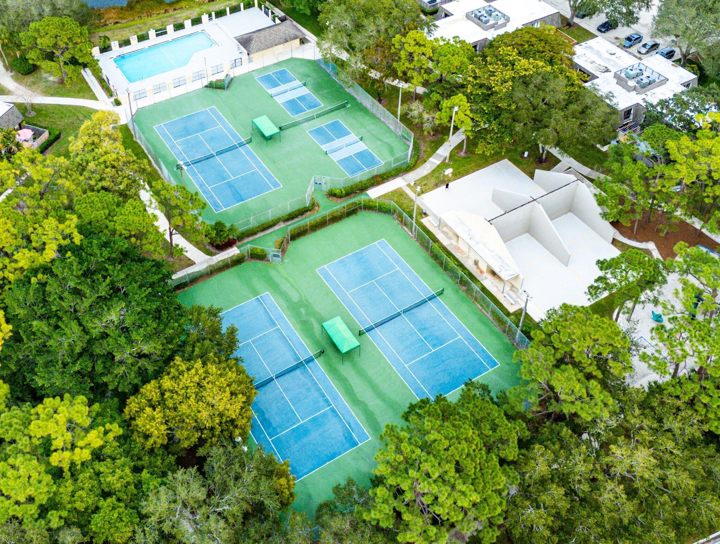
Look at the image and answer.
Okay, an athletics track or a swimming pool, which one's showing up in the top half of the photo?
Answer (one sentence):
The feature located in the top half of the photo is a swimming pool.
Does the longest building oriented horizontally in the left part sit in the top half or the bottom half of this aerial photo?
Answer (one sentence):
The longest building oriented horizontally in the left part sits in the top half of the picture.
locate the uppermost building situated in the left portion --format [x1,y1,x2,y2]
[232,20,308,63]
